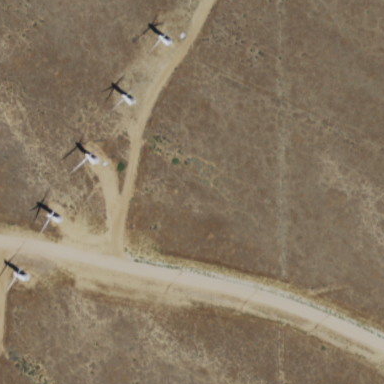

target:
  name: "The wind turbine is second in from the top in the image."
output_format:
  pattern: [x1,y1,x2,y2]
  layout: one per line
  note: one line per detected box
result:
[113,80,143,108]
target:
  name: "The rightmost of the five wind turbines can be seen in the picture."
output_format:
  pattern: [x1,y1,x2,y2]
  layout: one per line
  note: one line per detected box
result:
[144,29,174,58]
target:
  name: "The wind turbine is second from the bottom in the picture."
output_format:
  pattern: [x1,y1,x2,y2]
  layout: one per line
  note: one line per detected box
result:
[43,194,65,228]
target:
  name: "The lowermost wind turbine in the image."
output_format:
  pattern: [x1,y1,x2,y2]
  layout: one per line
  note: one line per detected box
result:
[8,256,32,294]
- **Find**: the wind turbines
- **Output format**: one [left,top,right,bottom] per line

[8,256,32,294]
[70,148,102,176]
[43,194,65,228]
[113,80,143,108]
[144,29,174,58]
